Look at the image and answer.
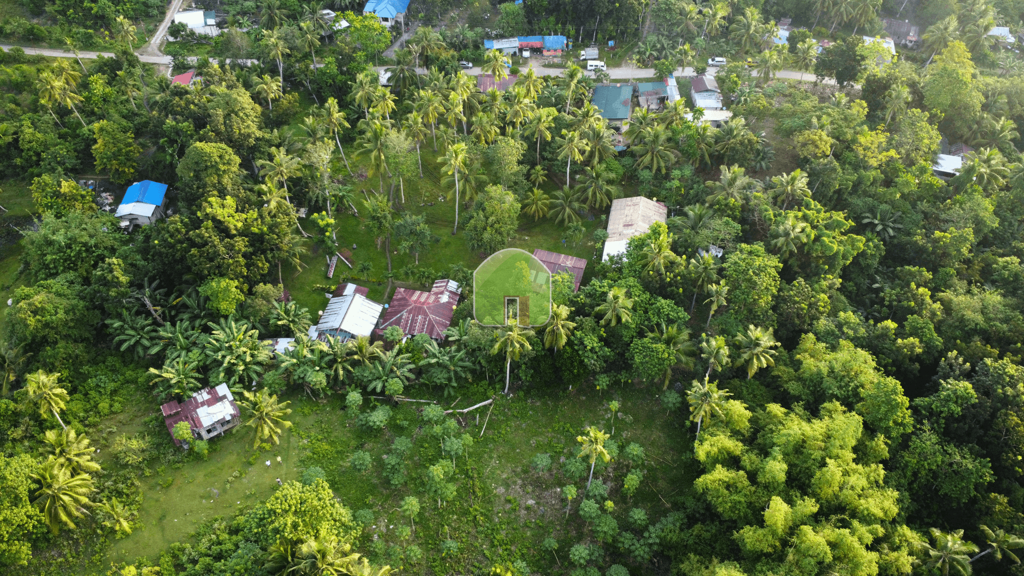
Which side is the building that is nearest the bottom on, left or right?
left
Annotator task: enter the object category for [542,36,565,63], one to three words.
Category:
building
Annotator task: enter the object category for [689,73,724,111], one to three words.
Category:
house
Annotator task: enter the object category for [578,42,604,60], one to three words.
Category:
vehicle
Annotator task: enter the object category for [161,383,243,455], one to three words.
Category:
building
